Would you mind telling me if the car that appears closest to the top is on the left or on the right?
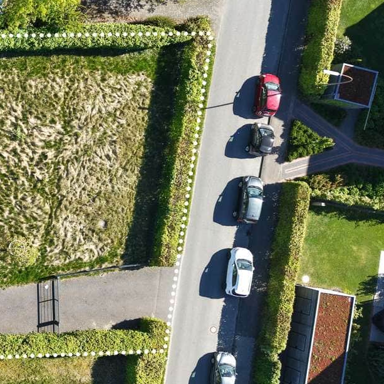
right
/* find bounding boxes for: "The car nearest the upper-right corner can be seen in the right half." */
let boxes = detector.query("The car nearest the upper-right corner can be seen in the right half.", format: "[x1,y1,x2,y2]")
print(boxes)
[249,73,283,119]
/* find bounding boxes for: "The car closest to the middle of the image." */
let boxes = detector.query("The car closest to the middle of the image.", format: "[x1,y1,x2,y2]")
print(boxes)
[233,174,267,227]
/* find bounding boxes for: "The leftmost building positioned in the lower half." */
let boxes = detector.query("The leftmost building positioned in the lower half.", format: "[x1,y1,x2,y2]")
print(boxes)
[281,284,355,384]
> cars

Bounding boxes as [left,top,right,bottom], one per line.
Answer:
[249,73,283,119]
[208,350,238,384]
[233,174,267,227]
[244,121,277,159]
[222,247,256,299]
